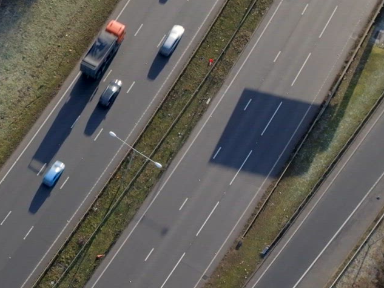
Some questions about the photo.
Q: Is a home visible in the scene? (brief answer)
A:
No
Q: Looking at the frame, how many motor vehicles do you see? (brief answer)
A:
four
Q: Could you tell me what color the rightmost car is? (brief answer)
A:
white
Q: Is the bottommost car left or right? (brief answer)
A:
left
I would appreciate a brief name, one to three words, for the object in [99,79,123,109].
car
